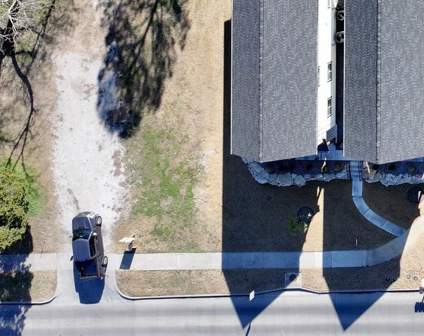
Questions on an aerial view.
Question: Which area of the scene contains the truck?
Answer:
bottom left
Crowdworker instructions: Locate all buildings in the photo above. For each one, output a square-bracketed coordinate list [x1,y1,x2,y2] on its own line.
[230,0,337,162]
[343,0,424,165]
